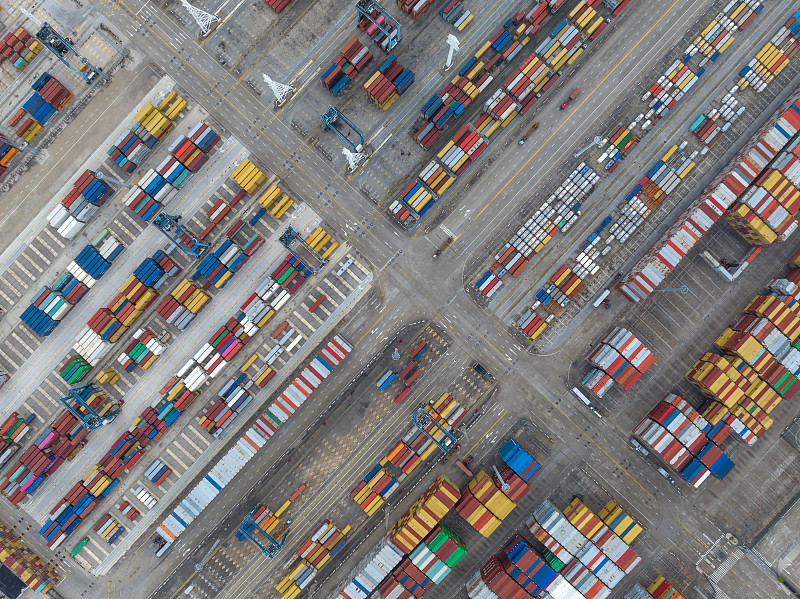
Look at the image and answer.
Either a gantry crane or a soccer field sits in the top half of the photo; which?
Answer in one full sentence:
The one visible in the top half of the photo is a gantry crane.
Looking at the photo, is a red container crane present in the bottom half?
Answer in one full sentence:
No, looking in the bottom half, there is no red container crane.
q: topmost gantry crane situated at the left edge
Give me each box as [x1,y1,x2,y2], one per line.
[36,21,123,99]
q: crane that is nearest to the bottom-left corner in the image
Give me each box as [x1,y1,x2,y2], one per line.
[59,384,119,430]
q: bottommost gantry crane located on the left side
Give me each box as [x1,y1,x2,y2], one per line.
[238,505,288,560]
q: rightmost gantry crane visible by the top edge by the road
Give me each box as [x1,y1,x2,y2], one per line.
[355,0,401,52]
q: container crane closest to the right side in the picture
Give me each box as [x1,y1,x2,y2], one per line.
[412,404,457,452]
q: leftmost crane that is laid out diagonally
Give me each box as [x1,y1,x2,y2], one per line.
[0,119,45,166]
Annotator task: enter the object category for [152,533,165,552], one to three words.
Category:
vehicle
